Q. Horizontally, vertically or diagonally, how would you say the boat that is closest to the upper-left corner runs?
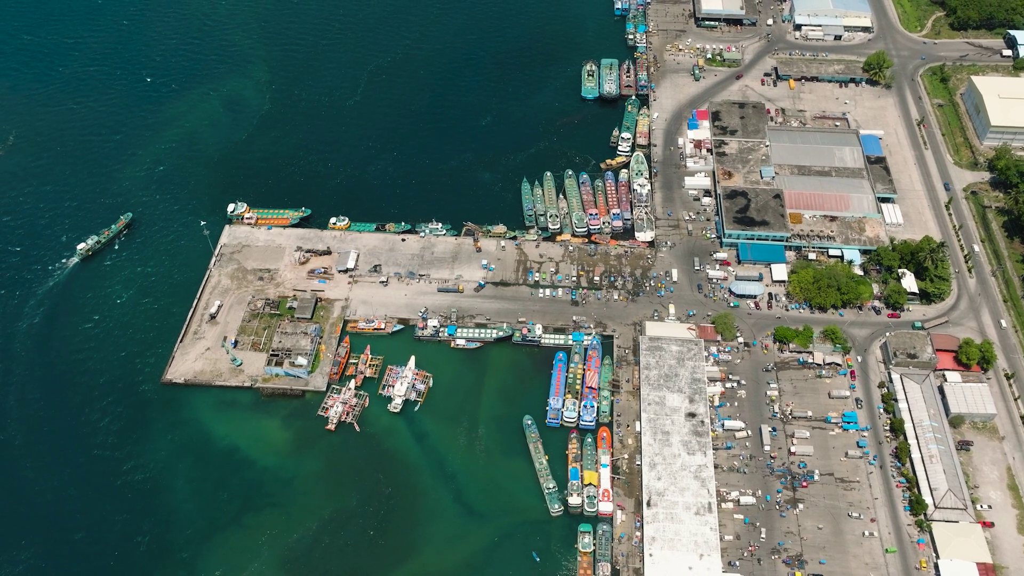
diagonally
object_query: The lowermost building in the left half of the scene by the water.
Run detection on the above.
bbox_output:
[264,320,322,380]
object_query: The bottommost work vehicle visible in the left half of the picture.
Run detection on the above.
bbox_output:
[224,341,241,371]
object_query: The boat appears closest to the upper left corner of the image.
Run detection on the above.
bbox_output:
[71,211,133,266]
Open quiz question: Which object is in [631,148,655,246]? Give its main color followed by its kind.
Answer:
white vessel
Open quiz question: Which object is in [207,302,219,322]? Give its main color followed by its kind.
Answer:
white vehicle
